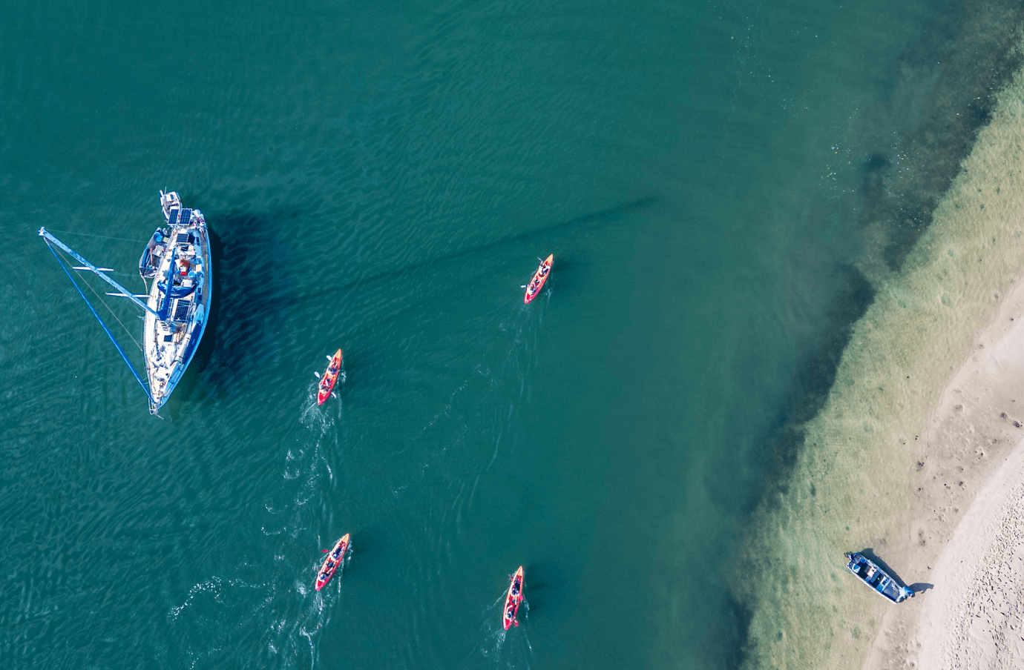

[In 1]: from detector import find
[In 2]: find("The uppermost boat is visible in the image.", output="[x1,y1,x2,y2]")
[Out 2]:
[159,185,183,221]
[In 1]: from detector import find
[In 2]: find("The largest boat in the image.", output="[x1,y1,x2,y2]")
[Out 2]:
[36,203,213,424]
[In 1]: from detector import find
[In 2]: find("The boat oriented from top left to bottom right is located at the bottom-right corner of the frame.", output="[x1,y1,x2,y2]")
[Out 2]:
[841,550,906,603]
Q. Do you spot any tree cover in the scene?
No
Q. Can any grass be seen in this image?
No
